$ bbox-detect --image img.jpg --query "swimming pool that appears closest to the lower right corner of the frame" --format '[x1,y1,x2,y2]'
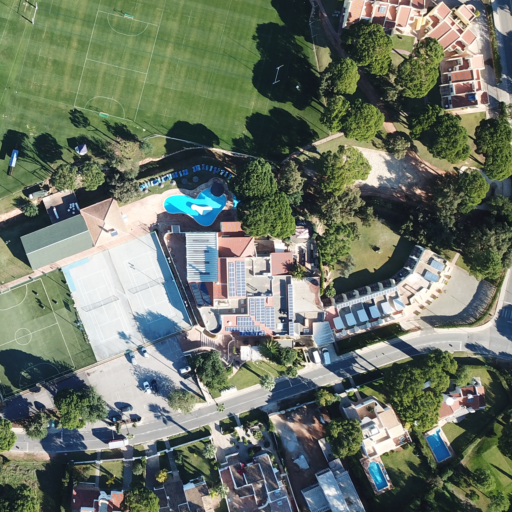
[426,430,453,464]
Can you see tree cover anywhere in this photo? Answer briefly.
Yes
